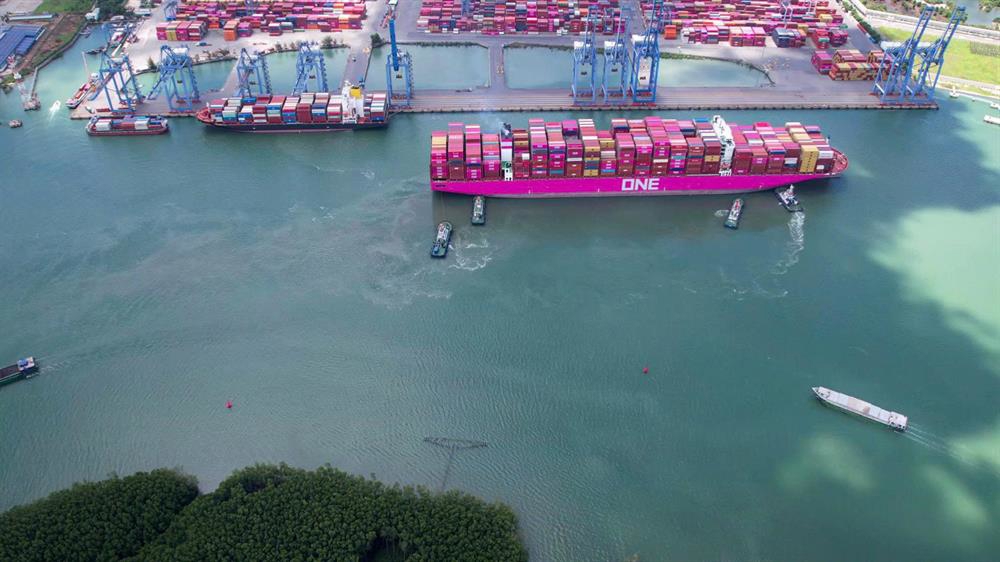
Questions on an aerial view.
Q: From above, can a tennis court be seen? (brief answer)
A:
No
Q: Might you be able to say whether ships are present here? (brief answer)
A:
Yes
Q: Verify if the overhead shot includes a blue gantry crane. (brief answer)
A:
Yes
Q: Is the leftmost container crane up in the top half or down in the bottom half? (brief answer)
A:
top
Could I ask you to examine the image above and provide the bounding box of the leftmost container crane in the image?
[83,40,145,109]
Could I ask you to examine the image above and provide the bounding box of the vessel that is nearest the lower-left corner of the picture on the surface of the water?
[0,358,41,387]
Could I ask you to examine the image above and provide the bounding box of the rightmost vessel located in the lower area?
[807,384,909,431]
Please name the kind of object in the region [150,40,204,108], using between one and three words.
container crane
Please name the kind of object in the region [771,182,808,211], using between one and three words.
boat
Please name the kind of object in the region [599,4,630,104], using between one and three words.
container crane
